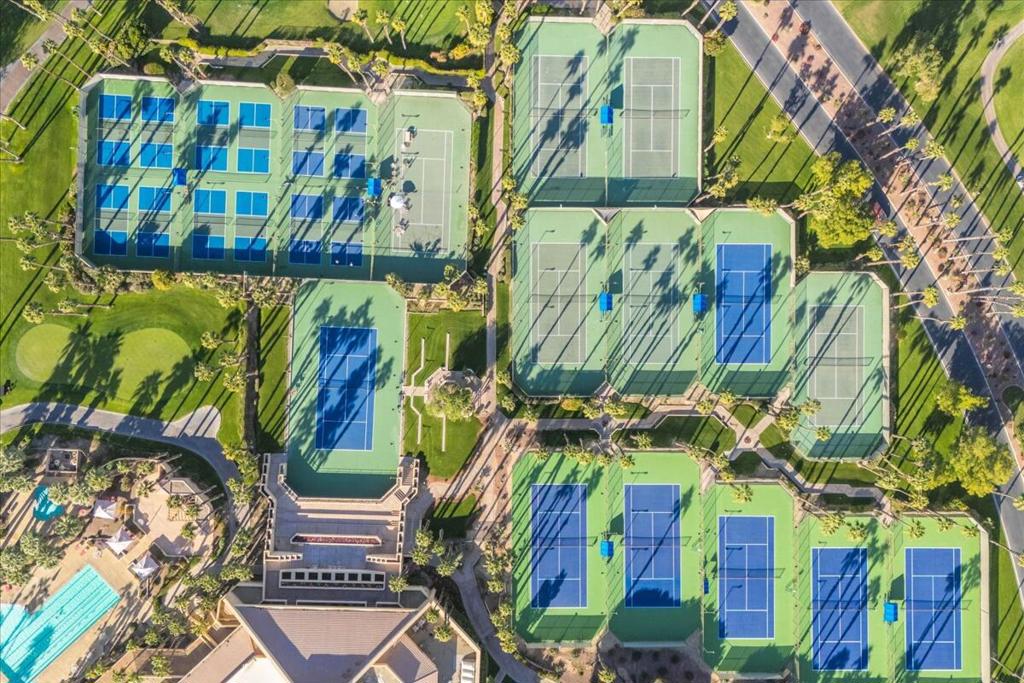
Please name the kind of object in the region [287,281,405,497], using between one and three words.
tennis court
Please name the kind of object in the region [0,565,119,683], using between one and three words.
swimming pool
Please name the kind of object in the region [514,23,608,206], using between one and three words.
tennis court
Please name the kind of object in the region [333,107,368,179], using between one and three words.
sports court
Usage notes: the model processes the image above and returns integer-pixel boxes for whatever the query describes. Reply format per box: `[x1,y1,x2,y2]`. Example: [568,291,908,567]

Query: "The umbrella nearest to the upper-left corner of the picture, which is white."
[391,196,405,209]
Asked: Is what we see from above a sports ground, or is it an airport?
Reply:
sports ground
